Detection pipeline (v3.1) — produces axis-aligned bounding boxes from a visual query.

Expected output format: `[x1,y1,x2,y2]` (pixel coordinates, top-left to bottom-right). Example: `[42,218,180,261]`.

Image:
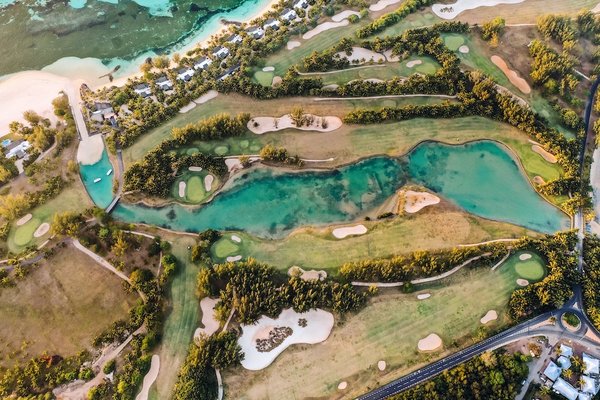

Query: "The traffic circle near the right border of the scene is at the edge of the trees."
[555,305,588,337]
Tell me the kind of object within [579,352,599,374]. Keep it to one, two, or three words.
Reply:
house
